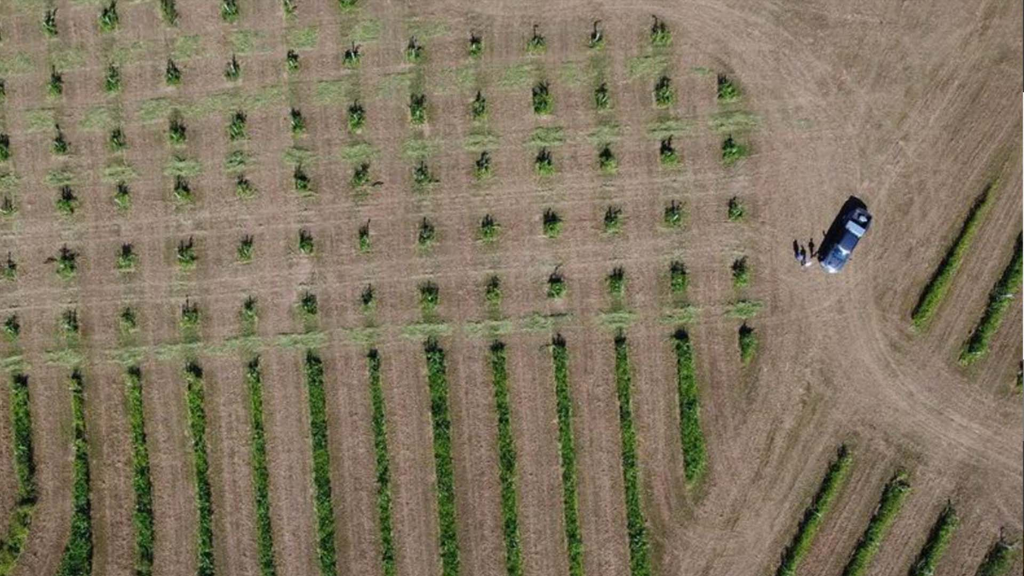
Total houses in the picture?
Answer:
none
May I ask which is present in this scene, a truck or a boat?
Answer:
truck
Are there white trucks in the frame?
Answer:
No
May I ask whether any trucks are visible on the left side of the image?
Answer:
No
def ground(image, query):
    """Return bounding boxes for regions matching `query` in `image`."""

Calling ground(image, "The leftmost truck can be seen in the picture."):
[820,205,874,276]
